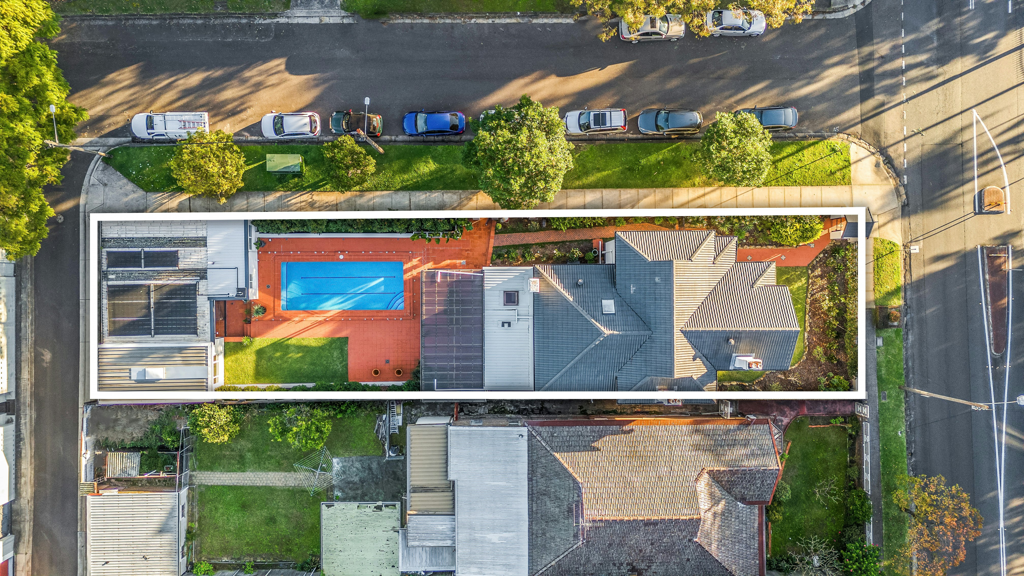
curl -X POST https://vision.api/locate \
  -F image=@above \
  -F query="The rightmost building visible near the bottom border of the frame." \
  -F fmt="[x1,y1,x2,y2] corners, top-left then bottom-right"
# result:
[525,419,783,576]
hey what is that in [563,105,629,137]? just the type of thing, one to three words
car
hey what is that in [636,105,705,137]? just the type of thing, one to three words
car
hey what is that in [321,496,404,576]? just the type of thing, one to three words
shed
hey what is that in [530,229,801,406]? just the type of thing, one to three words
house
